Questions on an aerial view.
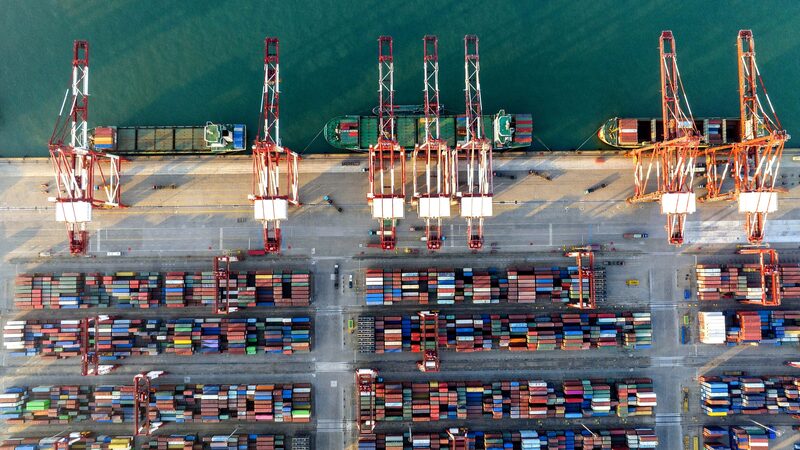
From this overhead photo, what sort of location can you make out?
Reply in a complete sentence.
This image shows a port.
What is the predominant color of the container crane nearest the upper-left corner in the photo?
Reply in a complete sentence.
The color of the container crane nearest the upper-left corner is white.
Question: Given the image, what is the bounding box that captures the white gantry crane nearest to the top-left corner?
[45,38,125,254]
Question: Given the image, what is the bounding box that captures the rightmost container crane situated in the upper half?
[701,30,785,247]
